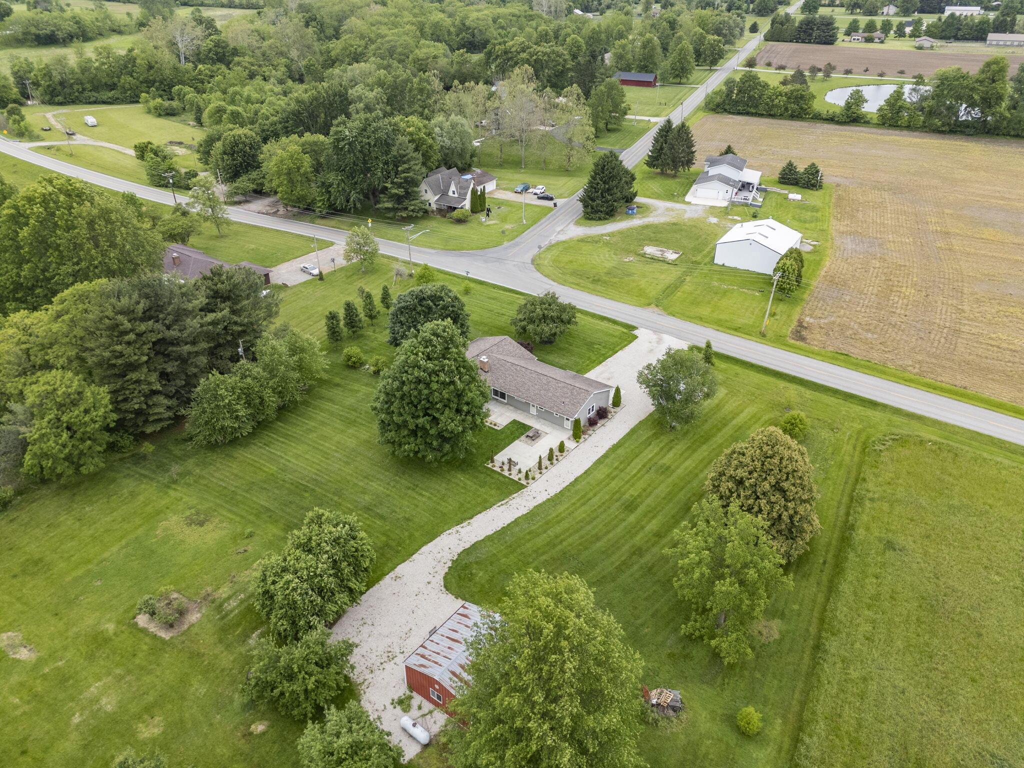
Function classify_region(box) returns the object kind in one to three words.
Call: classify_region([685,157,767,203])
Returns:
house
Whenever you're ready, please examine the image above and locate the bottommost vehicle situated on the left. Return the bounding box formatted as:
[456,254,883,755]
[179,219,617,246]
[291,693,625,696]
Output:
[300,263,319,275]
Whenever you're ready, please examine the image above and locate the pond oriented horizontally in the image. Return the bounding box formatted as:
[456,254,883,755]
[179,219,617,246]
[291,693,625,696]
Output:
[825,84,992,120]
